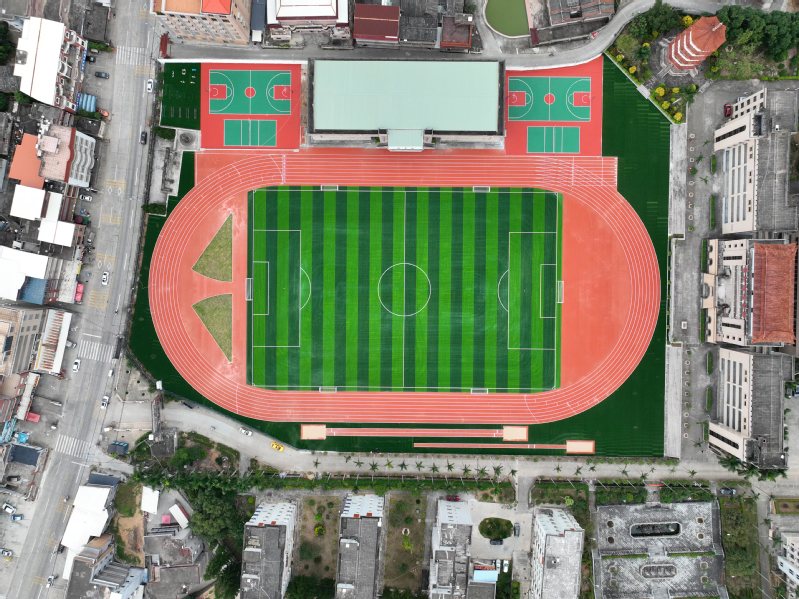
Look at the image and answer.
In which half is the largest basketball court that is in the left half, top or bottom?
top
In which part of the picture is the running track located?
center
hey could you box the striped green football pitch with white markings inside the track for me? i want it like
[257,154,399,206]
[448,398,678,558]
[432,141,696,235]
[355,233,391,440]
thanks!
[247,185,563,393]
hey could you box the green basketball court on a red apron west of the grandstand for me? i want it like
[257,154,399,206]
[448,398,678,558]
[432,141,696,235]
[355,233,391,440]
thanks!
[201,64,301,150]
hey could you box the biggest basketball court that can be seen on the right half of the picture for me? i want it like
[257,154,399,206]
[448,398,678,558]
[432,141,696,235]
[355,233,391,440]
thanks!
[506,55,604,155]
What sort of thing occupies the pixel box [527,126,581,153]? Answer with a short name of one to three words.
sports court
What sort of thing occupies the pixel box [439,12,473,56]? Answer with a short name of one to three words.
house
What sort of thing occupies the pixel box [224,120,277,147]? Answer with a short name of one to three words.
sports court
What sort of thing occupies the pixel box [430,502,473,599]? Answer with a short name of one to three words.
building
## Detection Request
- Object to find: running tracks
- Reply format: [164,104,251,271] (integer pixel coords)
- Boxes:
[148,146,661,424]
